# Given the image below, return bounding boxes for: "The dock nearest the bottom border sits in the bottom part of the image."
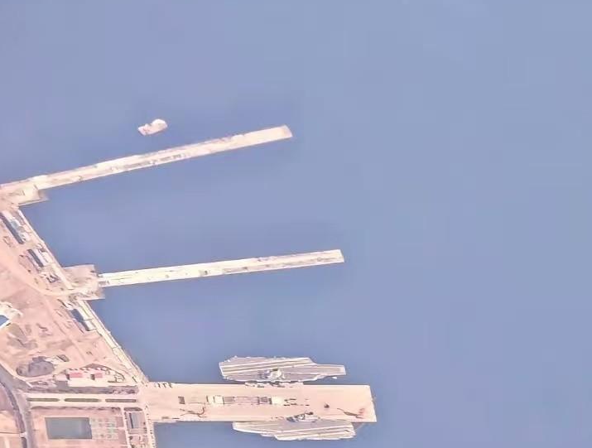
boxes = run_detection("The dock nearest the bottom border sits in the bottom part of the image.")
[149,383,378,423]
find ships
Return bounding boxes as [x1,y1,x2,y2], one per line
[220,357,347,383]
[233,409,357,441]
[137,116,169,136]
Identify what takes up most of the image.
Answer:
water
